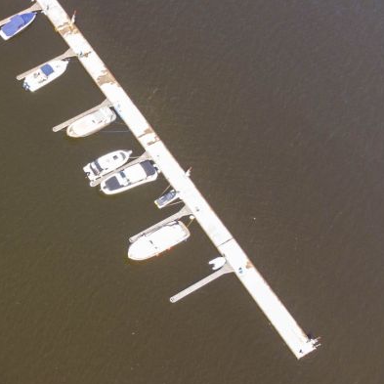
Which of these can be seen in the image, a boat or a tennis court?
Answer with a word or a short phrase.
boat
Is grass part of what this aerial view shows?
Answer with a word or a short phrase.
No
